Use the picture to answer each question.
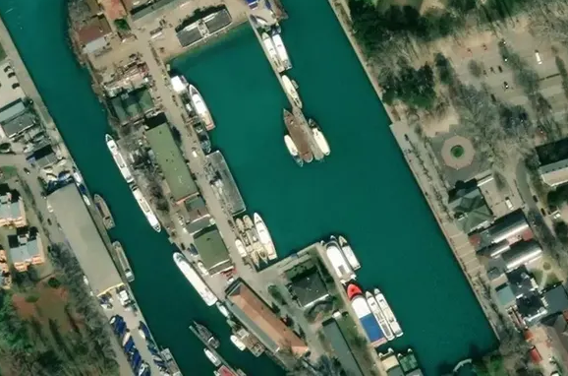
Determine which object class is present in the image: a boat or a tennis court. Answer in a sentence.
Looking from above, you can make out a boat.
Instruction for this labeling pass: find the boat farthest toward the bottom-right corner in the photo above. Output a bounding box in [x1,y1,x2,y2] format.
[397,347,424,376]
